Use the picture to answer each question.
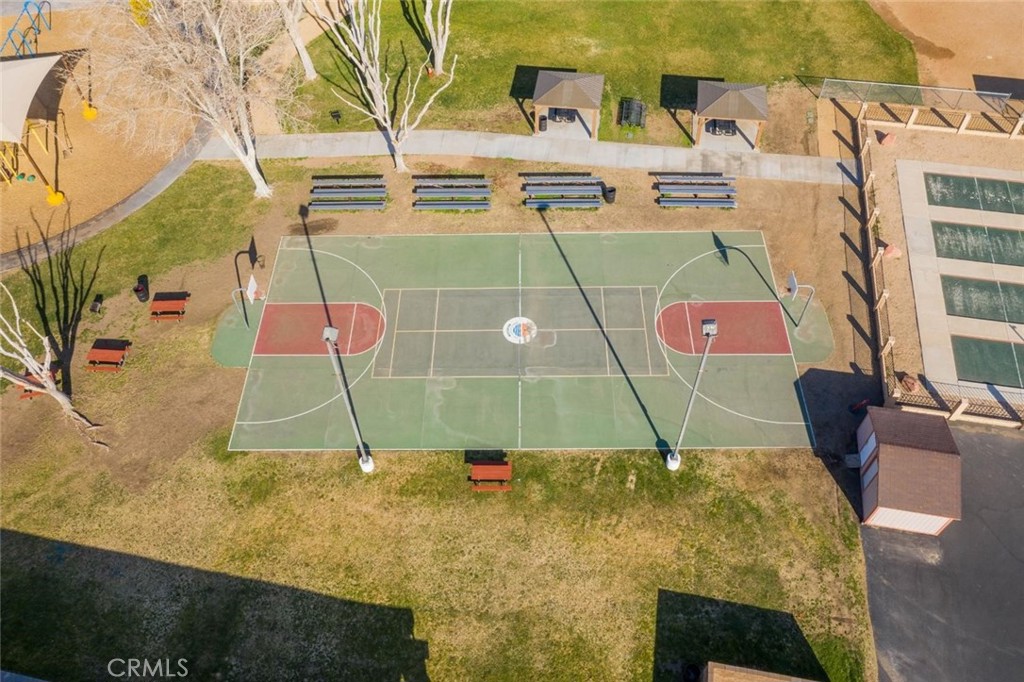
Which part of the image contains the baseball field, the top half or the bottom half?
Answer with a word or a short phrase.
top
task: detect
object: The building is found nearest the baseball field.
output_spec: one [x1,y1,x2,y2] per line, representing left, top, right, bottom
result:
[692,78,769,152]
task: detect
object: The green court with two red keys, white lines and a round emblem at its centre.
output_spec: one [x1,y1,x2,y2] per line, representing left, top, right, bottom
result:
[210,232,833,451]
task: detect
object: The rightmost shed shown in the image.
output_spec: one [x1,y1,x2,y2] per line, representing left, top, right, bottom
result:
[837,402,963,536]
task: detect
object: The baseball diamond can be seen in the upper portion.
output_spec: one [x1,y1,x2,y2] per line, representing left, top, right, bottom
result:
[867,0,1024,107]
